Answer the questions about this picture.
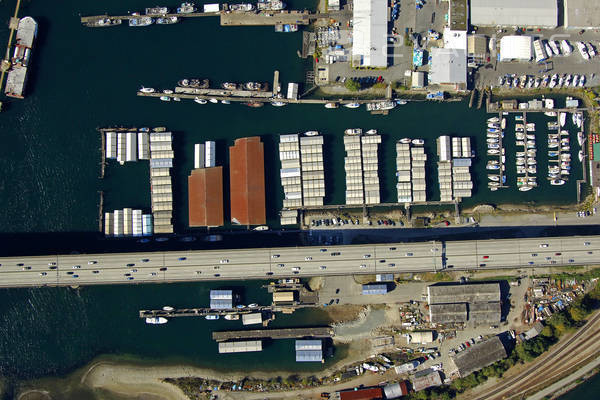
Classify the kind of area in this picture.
port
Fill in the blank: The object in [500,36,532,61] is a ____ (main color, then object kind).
white tent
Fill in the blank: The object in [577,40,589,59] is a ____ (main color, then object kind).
white boat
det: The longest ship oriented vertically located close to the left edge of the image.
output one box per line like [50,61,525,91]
[4,16,35,100]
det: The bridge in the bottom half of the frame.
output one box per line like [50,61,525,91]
[0,235,600,289]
